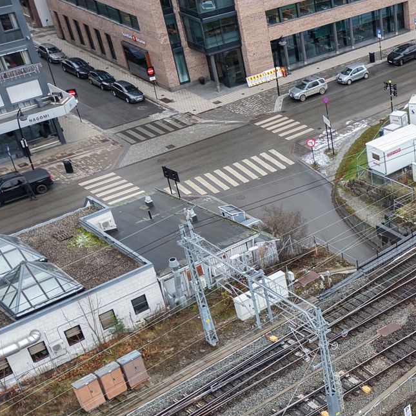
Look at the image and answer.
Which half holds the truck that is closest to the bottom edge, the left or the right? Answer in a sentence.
It is on the left.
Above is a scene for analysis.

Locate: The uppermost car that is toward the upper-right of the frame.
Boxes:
[387,42,416,64]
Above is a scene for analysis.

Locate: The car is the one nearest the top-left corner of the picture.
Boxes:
[35,41,63,61]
